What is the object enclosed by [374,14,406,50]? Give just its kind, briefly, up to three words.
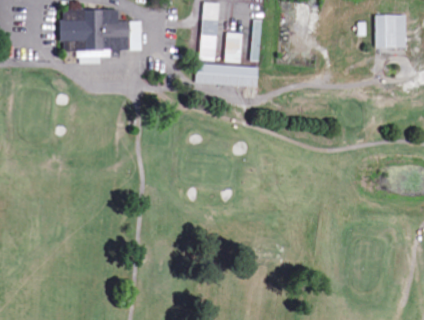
barn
